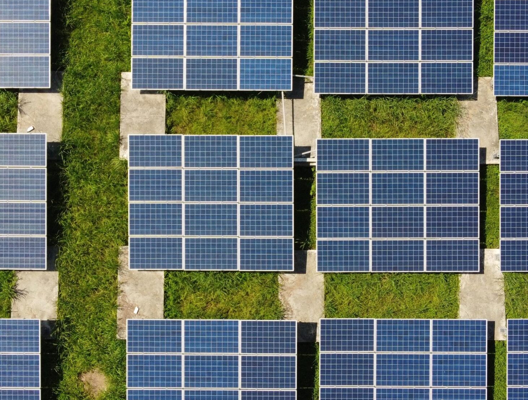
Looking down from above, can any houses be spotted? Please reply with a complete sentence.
No, there is no house in the image.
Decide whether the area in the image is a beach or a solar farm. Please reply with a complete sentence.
This image shows a solar farm.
